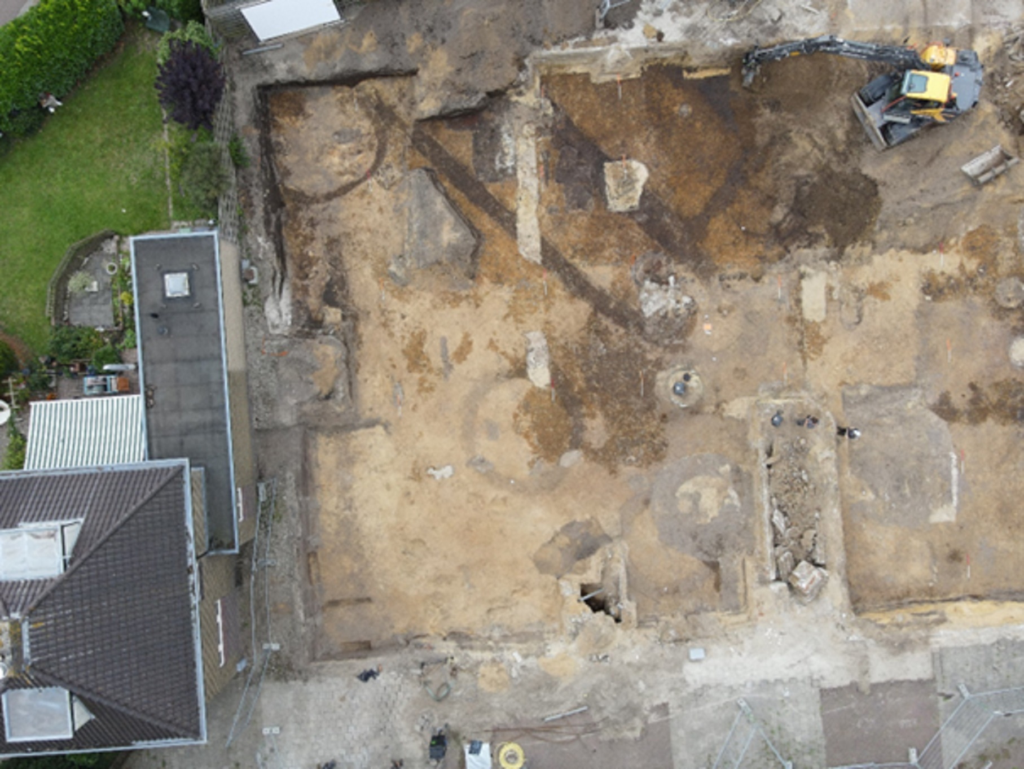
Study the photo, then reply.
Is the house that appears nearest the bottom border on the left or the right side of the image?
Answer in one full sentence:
The house that appears nearest the bottom border is on the left side of the image.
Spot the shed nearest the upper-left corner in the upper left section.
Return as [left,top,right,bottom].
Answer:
[205,0,262,60]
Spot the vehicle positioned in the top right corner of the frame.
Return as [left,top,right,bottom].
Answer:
[744,32,979,159]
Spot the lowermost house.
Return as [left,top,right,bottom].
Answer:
[0,454,239,758]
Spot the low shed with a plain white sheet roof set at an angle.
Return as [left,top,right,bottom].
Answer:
[245,0,342,45]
